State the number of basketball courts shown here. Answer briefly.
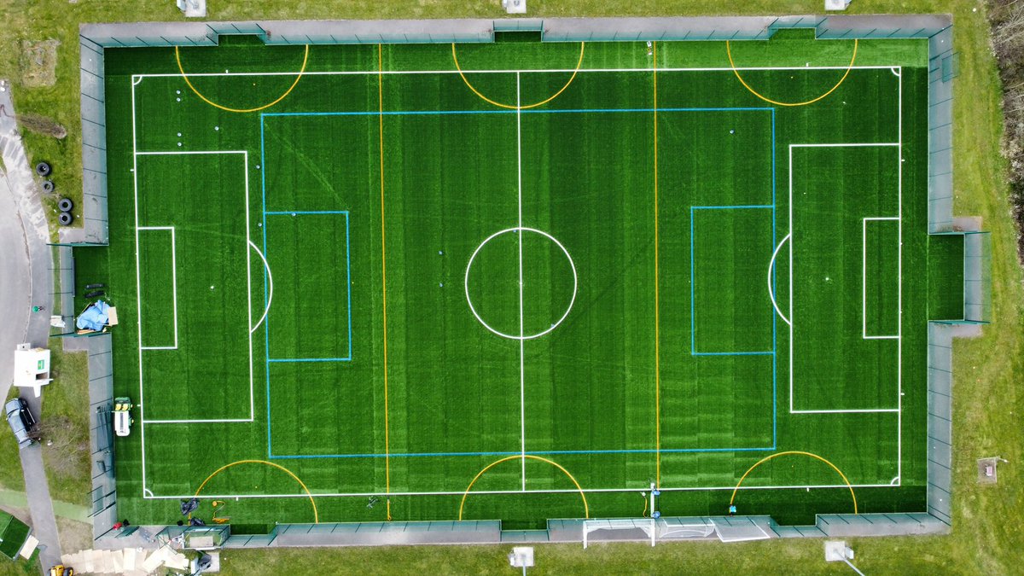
0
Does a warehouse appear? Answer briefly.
No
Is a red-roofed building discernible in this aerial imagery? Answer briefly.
No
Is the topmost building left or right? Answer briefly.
left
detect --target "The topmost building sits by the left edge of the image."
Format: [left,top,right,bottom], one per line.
[14,331,53,400]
